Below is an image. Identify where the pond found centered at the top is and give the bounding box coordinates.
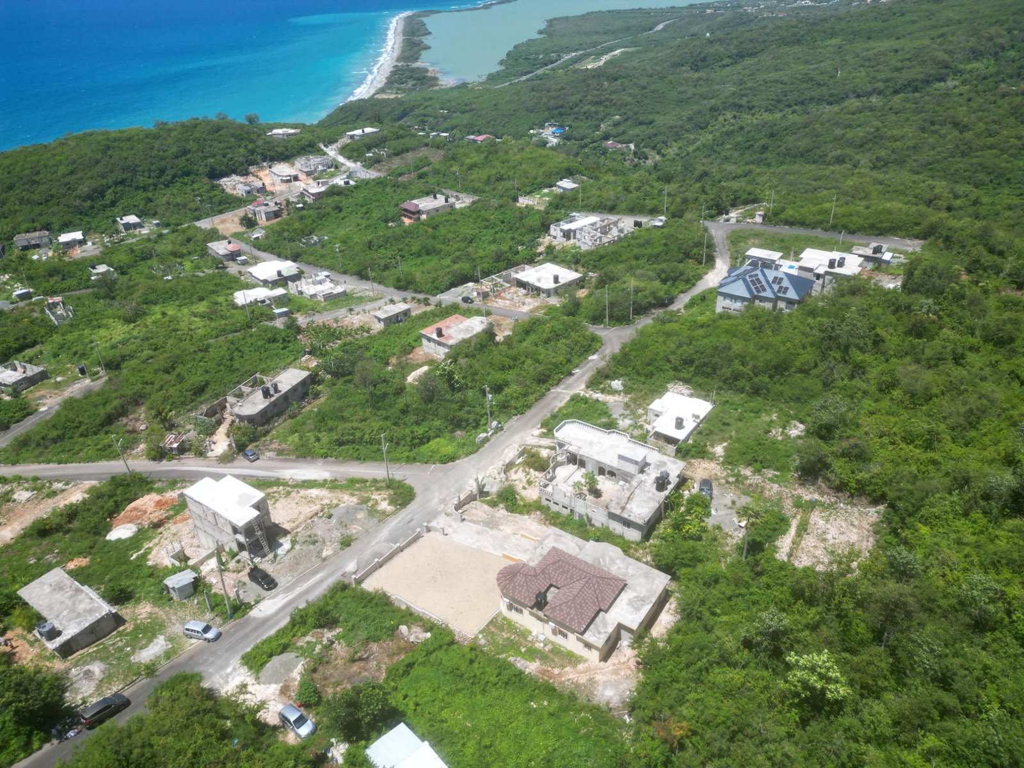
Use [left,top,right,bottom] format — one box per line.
[420,0,705,82]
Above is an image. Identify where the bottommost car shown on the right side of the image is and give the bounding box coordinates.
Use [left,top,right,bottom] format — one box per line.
[699,473,714,500]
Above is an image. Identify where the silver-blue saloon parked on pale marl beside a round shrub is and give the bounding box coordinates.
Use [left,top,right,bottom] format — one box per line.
[275,702,316,740]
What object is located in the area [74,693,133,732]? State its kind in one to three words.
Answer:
car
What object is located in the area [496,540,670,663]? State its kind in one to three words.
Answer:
house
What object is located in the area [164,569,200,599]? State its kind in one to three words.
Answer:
shed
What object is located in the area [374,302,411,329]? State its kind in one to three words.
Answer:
house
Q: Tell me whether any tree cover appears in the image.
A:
Yes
